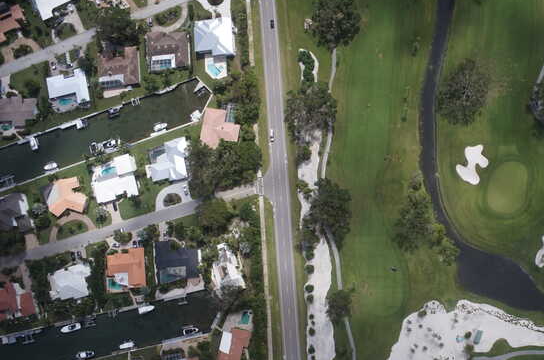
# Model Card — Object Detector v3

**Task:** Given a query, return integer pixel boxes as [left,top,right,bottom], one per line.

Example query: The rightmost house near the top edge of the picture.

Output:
[193,17,234,57]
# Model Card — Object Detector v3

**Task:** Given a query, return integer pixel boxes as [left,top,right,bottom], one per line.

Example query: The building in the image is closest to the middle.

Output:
[200,106,239,146]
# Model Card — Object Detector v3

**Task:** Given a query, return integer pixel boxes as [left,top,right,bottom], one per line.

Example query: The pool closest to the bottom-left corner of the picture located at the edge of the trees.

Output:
[106,276,131,294]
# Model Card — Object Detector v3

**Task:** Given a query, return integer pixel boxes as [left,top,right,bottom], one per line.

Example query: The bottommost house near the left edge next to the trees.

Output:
[0,283,38,318]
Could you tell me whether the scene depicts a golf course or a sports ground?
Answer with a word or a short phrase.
golf course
